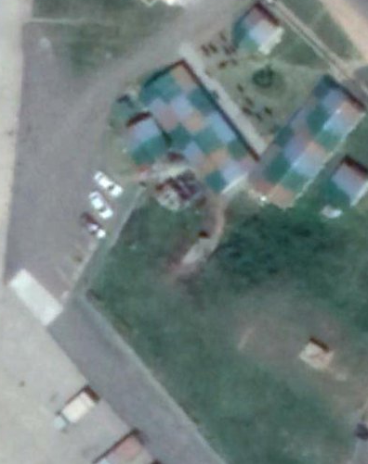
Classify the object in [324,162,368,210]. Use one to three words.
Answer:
shed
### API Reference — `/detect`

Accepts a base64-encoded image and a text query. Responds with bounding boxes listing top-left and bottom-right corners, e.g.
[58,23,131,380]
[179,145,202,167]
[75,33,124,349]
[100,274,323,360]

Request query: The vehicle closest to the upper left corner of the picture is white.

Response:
[95,170,122,196]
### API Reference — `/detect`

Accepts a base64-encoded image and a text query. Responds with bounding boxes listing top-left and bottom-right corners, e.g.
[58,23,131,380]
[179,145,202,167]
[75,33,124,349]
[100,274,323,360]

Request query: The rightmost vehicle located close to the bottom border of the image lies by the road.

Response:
[98,434,146,464]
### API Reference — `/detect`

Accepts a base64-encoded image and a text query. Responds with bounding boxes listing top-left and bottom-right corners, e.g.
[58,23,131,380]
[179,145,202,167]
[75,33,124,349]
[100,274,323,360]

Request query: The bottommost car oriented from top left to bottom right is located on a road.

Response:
[81,212,106,237]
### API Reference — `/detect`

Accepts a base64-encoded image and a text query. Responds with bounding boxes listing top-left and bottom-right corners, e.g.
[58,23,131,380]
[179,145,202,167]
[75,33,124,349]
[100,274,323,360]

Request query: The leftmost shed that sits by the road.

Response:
[125,116,169,158]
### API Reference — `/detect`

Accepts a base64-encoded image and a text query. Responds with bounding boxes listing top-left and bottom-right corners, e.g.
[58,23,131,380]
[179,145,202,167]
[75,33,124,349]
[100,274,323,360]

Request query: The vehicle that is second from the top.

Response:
[89,190,112,218]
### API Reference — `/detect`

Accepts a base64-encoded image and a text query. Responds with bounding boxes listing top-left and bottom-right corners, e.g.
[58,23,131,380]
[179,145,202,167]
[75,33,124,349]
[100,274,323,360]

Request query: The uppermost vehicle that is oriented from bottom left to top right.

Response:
[52,388,98,430]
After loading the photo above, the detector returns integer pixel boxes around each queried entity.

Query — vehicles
[98,434,146,464]
[89,190,112,218]
[52,388,98,430]
[95,170,122,196]
[81,212,106,237]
